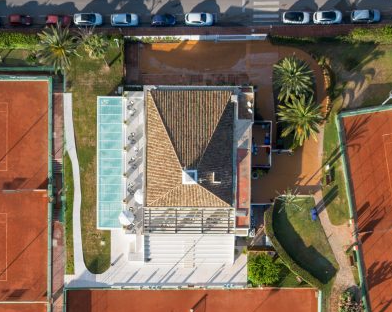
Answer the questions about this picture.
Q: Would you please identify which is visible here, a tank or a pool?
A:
pool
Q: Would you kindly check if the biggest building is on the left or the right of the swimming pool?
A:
to the right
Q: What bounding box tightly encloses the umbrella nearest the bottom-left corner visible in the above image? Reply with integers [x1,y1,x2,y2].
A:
[119,211,136,228]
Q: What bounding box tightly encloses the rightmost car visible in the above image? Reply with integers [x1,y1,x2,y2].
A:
[352,7,381,22]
